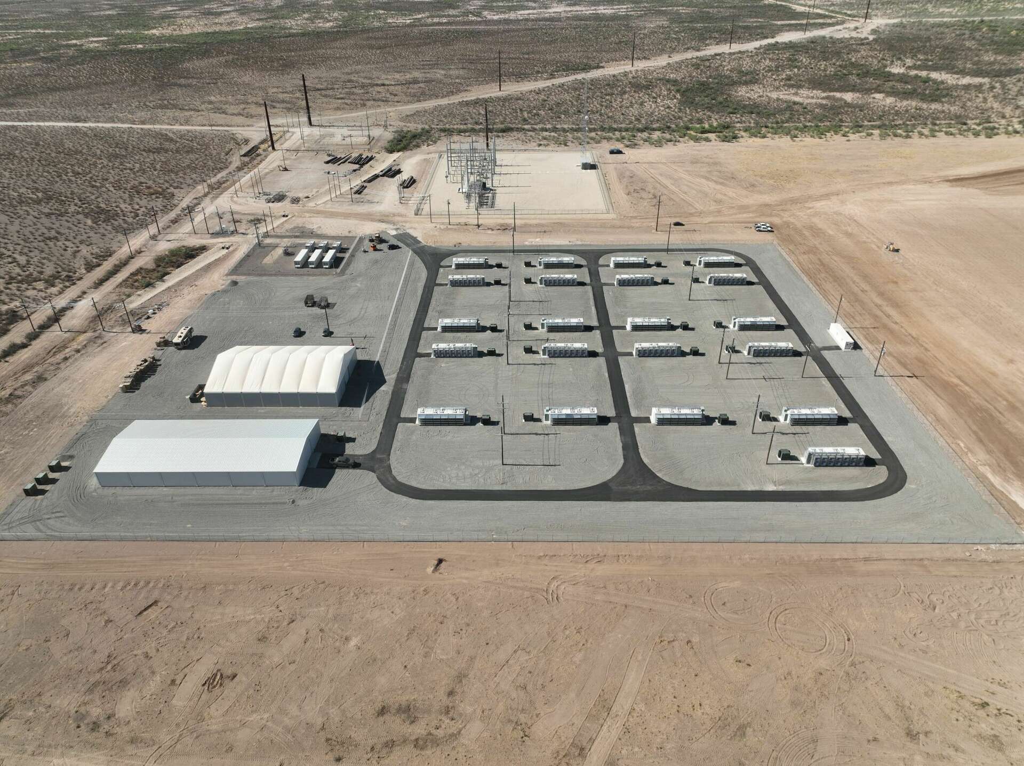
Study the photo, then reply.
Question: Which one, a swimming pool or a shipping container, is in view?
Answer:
shipping container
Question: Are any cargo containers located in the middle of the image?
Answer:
Yes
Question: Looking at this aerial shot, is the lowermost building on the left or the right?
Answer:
left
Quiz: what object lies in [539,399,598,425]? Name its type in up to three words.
shipping container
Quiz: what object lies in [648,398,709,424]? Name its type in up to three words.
shipping container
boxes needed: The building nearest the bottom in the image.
[91,419,321,486]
